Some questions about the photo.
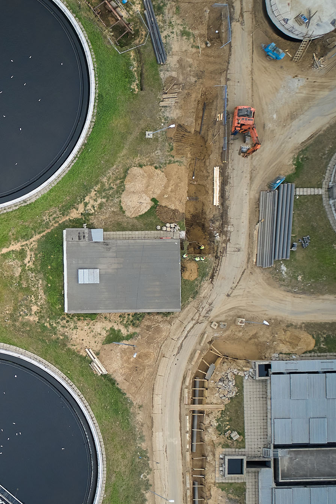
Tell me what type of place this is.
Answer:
industrial area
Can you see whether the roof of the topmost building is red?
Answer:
No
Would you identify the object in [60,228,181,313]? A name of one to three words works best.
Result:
building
